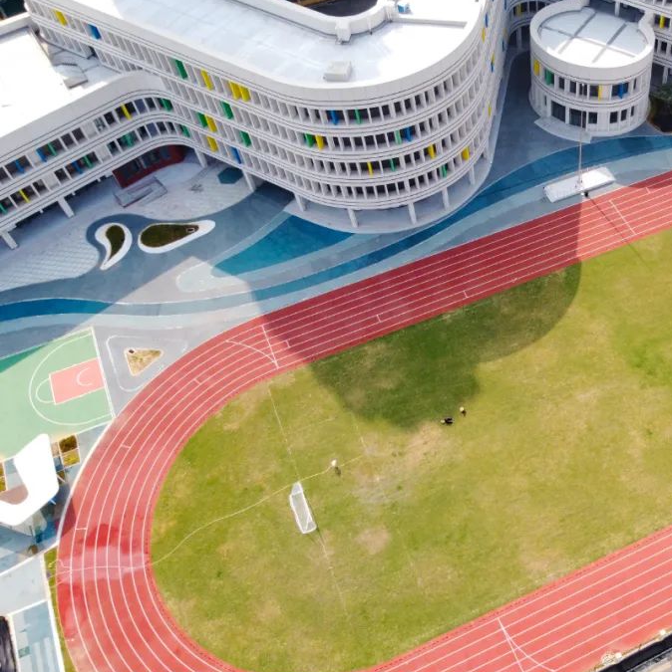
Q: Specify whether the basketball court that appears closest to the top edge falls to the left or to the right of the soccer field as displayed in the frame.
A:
to its left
